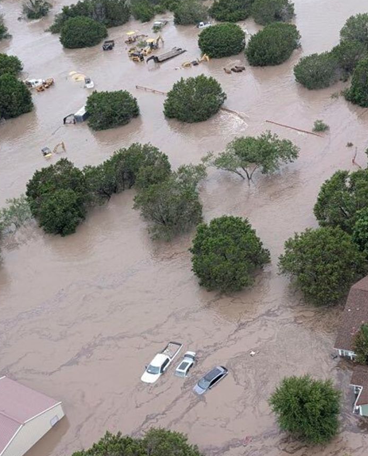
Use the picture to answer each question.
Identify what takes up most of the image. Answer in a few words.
water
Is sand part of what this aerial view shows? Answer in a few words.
No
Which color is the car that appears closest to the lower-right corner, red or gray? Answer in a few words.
gray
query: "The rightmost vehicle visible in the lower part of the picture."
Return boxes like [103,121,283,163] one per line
[195,366,228,396]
